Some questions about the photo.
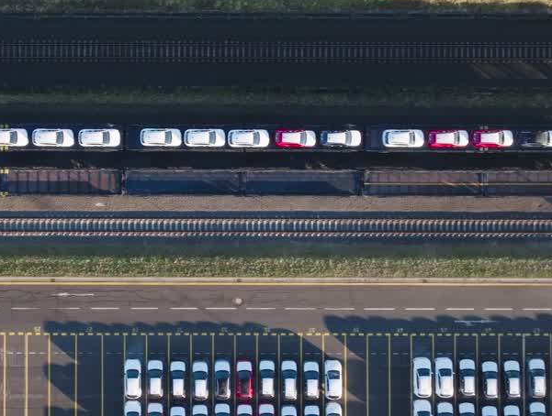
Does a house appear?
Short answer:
No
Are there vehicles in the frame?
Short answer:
Yes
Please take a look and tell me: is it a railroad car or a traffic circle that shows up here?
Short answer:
railroad car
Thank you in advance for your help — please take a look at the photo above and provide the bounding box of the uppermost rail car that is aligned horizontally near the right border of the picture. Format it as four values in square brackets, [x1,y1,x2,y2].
[364,125,552,154]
